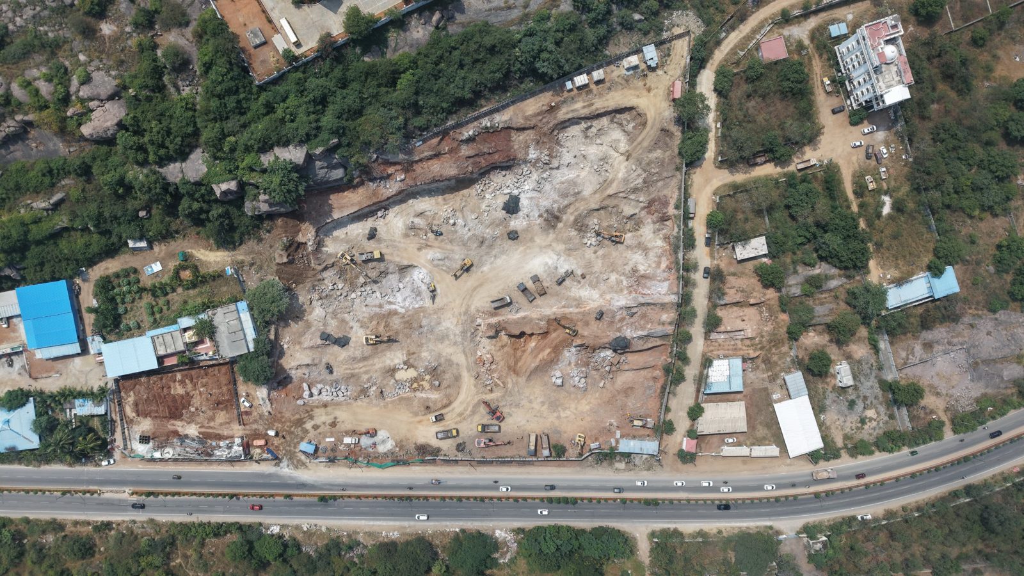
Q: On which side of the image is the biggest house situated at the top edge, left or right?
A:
right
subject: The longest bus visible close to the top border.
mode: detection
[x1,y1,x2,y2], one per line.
[279,19,300,45]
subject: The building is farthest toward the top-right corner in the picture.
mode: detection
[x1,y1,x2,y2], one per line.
[832,14,913,115]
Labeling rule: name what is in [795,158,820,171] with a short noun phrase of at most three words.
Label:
vehicle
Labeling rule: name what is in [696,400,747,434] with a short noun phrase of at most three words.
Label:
shed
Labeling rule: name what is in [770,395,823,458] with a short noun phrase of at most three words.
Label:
building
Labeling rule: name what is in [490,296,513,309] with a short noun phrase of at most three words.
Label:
vehicle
